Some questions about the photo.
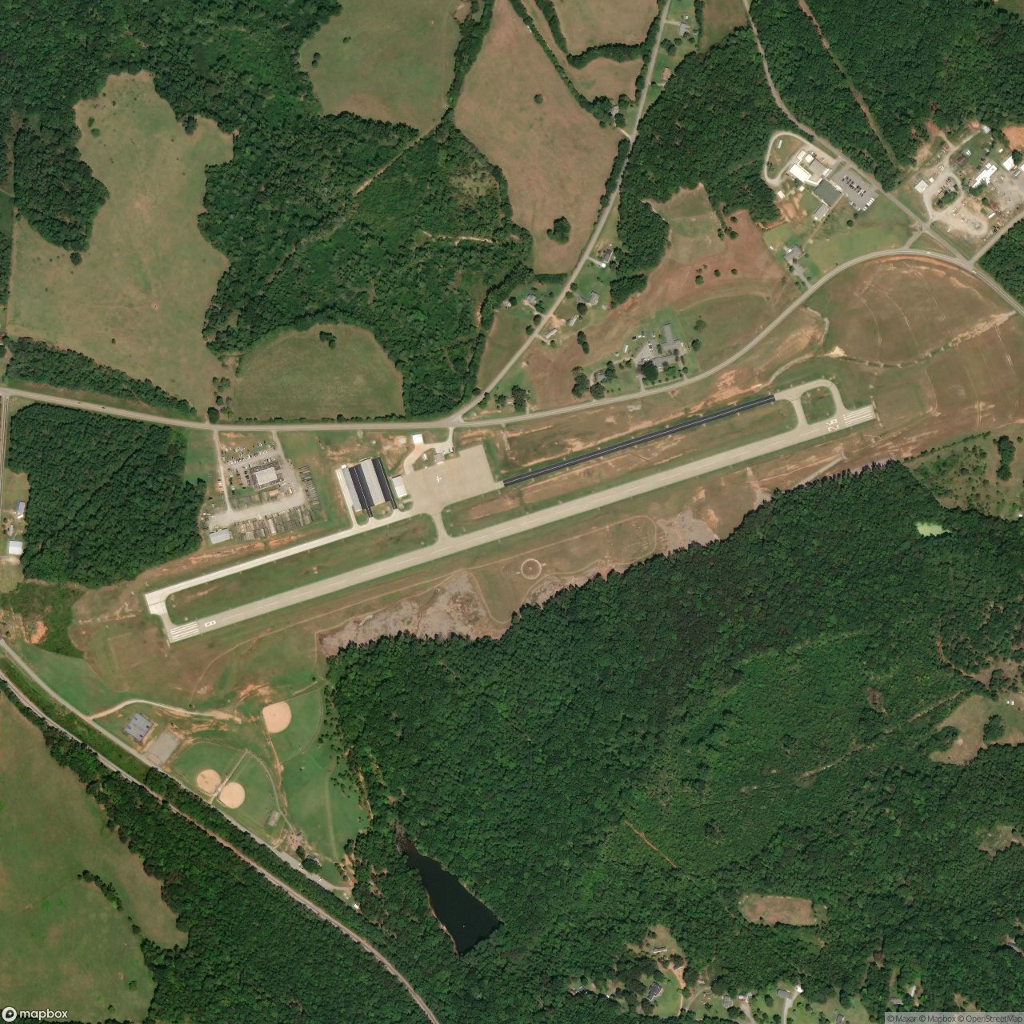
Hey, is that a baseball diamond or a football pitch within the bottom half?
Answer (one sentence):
It is a baseball diamond that can be seen within the bottom half.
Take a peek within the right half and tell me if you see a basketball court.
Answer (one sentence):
No, within the right half there is no basketball court.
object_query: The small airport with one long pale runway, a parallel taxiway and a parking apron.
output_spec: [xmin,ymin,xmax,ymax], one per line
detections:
[145,379,875,643]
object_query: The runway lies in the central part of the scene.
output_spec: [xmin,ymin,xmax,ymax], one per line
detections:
[167,404,875,643]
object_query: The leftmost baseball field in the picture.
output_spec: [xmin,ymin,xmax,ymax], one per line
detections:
[171,741,239,797]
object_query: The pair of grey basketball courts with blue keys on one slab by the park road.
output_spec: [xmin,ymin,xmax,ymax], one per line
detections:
[123,712,154,743]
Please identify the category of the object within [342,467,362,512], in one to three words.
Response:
hangar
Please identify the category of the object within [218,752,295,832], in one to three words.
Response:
baseball field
